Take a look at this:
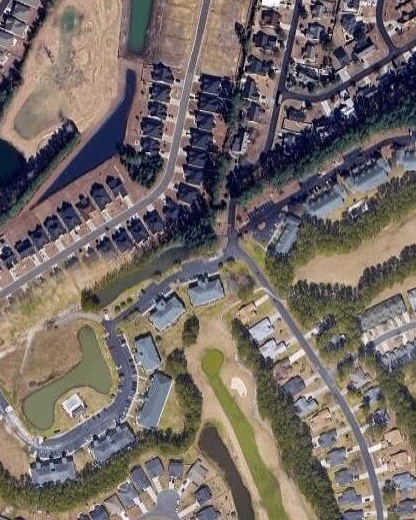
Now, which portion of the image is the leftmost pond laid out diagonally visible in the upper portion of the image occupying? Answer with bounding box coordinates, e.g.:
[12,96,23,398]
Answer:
[30,66,136,210]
